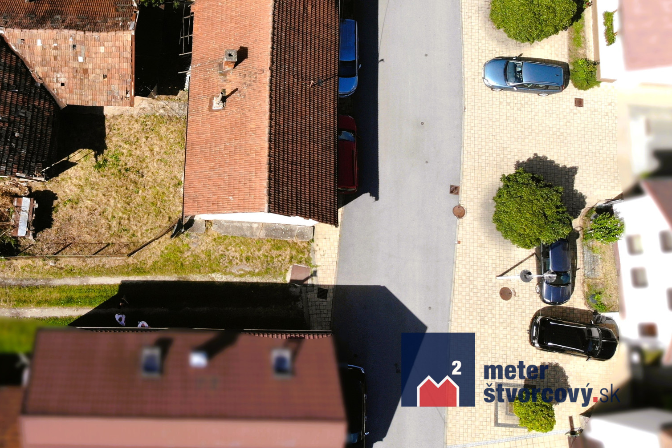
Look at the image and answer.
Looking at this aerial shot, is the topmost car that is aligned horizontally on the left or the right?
right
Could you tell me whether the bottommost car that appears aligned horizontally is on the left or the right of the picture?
right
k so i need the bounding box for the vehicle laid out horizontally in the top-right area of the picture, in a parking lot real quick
[480,52,572,97]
